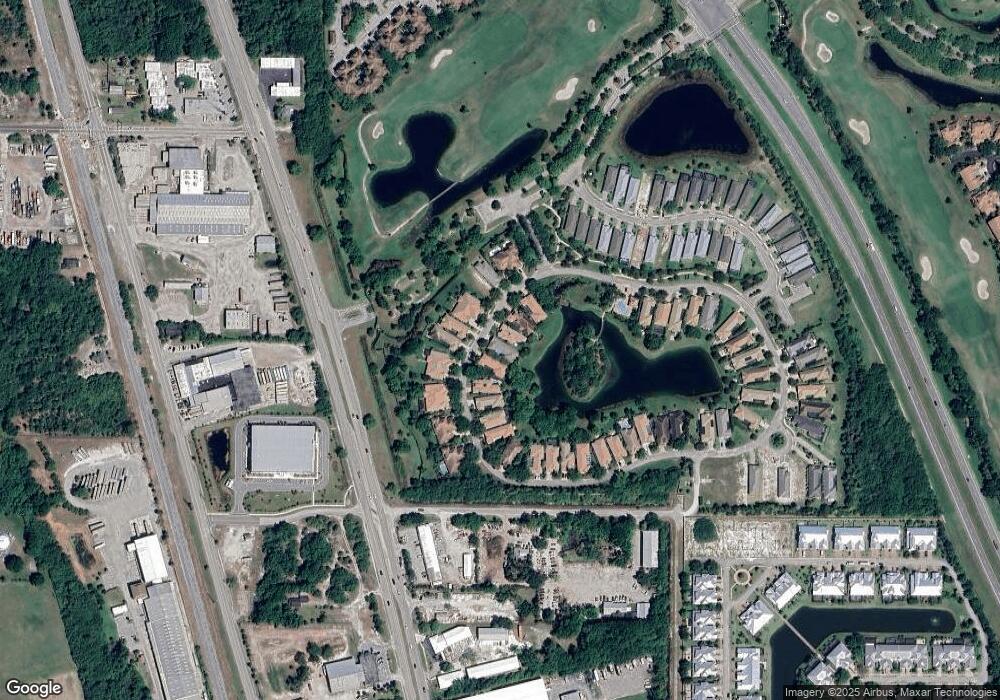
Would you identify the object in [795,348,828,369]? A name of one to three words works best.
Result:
house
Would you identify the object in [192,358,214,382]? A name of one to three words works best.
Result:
building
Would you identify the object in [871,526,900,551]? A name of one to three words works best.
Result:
house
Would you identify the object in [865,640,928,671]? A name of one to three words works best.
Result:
building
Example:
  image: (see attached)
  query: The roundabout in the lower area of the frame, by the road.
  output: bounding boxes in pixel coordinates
[762,425,793,456]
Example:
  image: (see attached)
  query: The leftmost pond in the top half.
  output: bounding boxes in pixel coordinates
[369,110,549,217]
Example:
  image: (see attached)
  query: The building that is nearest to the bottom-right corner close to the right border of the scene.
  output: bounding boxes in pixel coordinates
[933,640,977,670]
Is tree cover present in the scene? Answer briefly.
Yes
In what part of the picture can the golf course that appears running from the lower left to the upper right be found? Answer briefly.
top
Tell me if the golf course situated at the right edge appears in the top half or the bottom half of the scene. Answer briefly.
top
